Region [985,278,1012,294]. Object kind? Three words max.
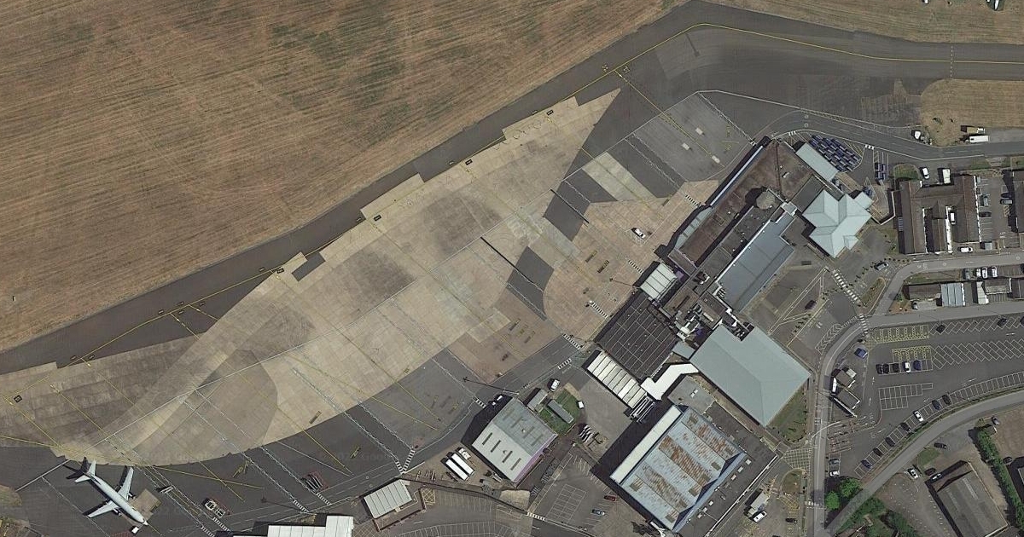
shed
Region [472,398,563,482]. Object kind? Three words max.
hangar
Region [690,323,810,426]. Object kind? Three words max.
building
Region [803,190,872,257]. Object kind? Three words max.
building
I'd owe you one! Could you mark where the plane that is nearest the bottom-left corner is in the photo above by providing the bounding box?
[75,460,149,525]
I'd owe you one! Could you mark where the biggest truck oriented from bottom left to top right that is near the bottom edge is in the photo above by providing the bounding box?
[749,490,770,512]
